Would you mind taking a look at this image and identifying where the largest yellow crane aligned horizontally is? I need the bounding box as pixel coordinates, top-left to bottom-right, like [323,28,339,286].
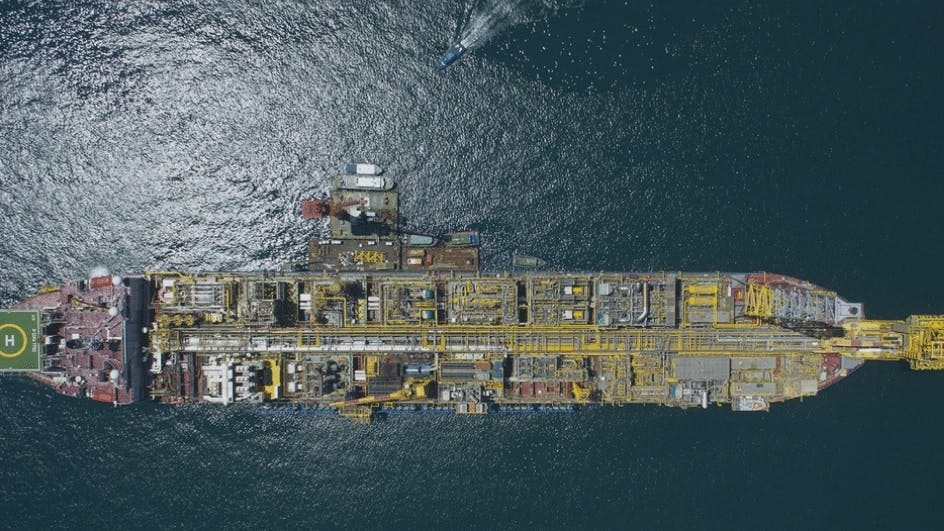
[337,379,427,407]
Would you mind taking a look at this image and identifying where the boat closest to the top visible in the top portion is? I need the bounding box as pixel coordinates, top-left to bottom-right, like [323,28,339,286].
[439,41,467,70]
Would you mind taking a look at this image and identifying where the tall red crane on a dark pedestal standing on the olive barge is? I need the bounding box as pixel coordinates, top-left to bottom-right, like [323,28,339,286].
[301,198,371,226]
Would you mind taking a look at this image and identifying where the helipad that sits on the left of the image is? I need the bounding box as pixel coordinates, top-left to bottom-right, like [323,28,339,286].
[0,308,60,374]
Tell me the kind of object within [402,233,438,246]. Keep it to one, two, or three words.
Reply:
boat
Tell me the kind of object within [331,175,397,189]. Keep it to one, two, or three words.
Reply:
boat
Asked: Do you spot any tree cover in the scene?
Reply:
No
